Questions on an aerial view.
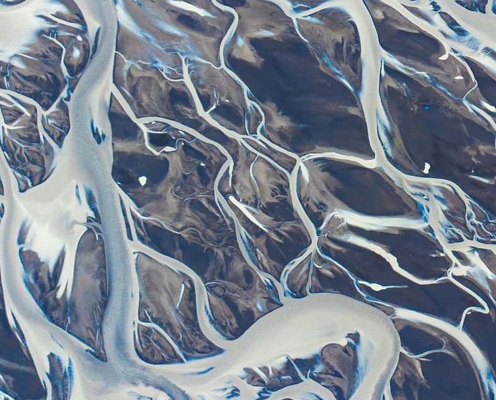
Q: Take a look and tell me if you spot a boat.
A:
No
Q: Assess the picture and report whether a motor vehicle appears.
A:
No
